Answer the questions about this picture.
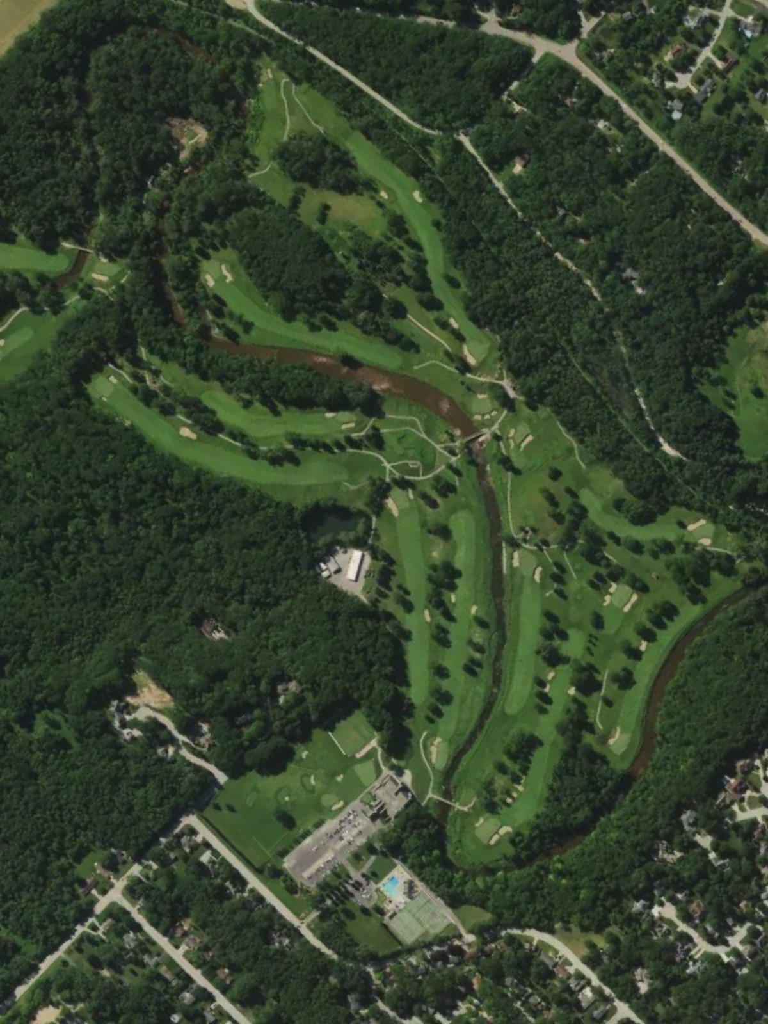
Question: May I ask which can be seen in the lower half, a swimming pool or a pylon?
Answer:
swimming pool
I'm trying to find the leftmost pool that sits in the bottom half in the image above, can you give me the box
[378,865,420,911]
